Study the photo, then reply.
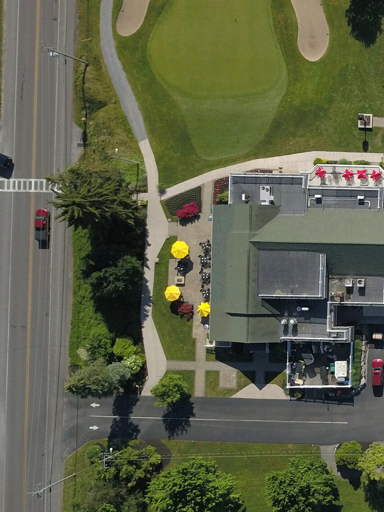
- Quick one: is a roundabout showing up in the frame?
No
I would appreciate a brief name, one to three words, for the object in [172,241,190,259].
umbrella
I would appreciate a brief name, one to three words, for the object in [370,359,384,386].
car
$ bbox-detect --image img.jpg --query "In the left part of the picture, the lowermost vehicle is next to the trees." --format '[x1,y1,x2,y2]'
[34,209,52,241]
